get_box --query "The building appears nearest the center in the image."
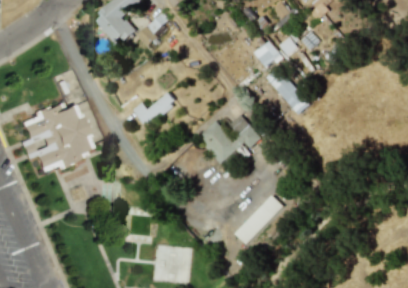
[201,114,258,160]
